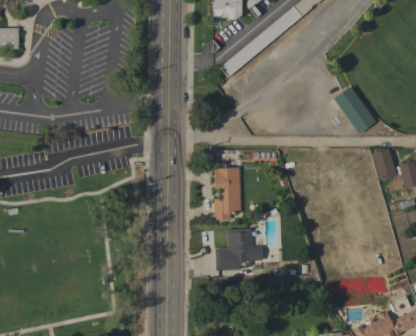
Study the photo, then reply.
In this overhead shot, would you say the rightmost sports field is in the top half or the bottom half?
top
